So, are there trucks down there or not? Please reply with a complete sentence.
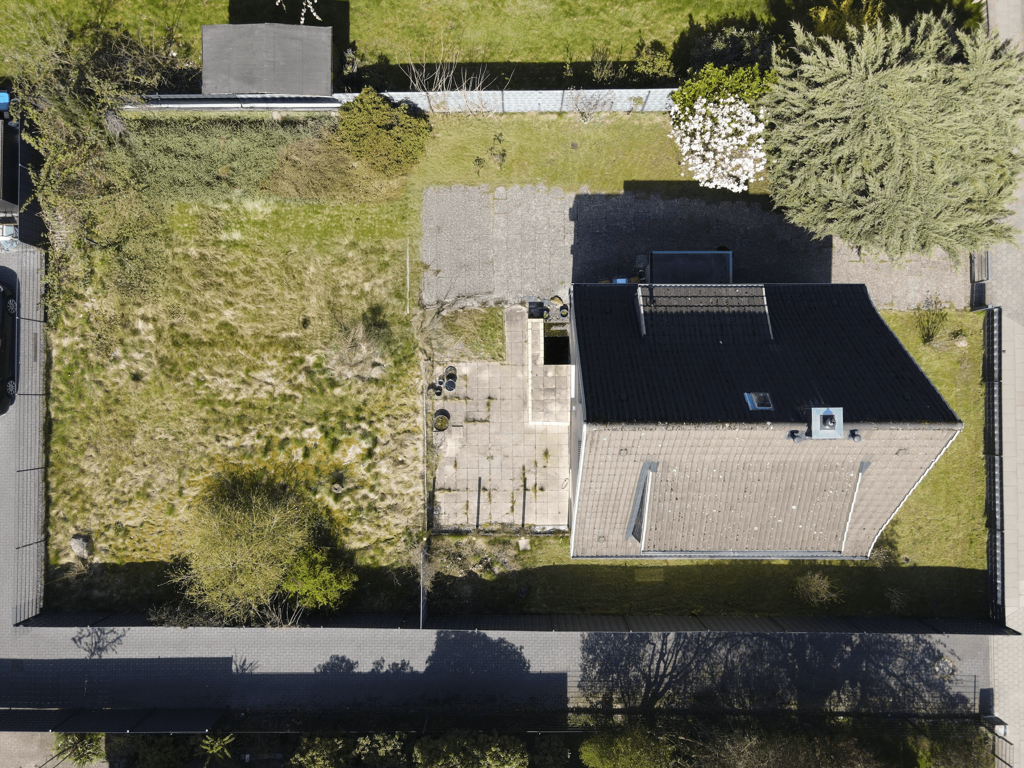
No, the scene contains no truck.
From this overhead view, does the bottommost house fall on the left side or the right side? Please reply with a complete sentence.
You can find the bottommost house on the right side of the picture.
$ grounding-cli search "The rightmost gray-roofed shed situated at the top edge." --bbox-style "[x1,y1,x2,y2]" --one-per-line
[201,24,345,99]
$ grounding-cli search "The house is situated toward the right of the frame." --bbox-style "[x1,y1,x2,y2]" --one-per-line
[565,252,968,561]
